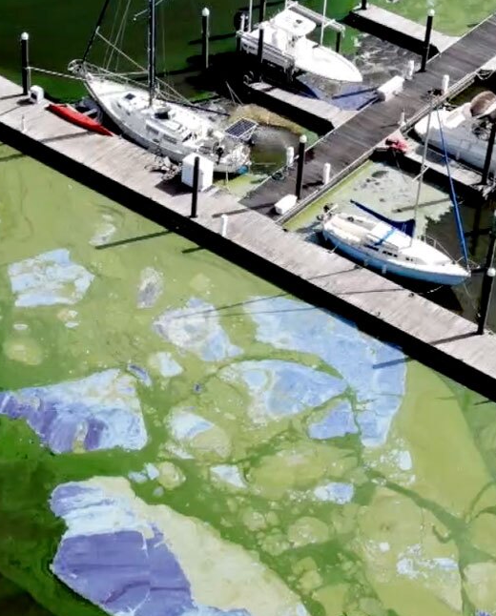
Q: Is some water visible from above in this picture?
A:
Yes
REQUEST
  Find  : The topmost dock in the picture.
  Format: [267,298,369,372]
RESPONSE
[354,5,455,58]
